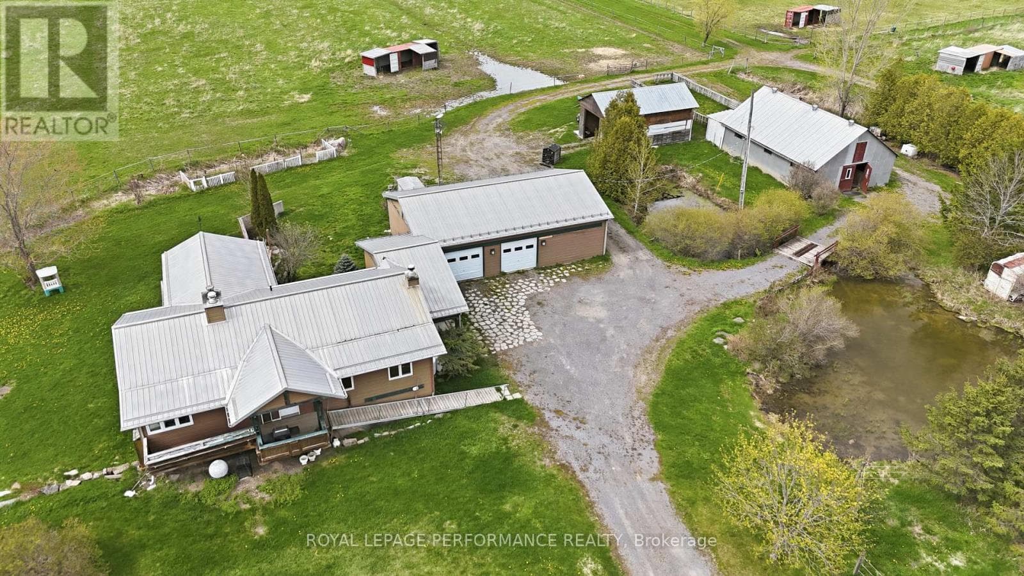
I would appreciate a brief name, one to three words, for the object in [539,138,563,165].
shed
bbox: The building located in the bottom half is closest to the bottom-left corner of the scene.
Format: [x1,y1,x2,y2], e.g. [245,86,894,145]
[109,228,470,490]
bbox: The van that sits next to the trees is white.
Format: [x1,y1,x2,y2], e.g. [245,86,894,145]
[983,252,1024,298]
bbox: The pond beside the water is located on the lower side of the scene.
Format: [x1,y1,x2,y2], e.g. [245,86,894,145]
[755,272,1024,465]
